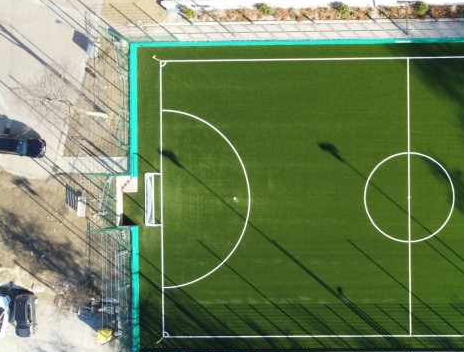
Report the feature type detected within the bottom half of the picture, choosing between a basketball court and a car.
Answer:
car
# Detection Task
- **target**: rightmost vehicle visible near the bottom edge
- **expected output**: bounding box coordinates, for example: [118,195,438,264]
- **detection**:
[10,292,37,337]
